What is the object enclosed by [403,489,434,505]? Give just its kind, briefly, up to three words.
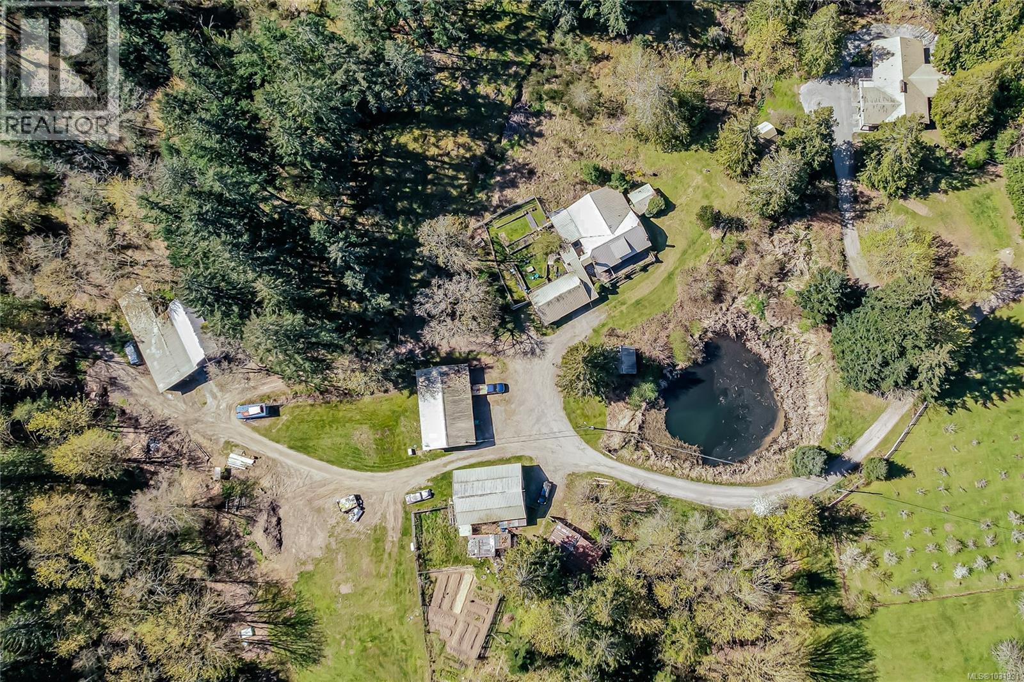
car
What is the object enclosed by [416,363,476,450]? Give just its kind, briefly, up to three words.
barn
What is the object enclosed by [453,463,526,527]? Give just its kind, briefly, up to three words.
barn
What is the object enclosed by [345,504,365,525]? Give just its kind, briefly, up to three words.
vehicle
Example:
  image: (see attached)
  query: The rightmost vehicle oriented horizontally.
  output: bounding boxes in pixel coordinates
[471,383,509,396]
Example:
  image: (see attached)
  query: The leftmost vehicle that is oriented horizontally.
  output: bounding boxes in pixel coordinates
[235,404,272,420]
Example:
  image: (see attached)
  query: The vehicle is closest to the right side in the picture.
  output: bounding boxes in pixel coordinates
[537,479,552,507]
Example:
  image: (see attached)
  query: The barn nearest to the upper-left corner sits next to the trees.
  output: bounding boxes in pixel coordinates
[119,286,221,392]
